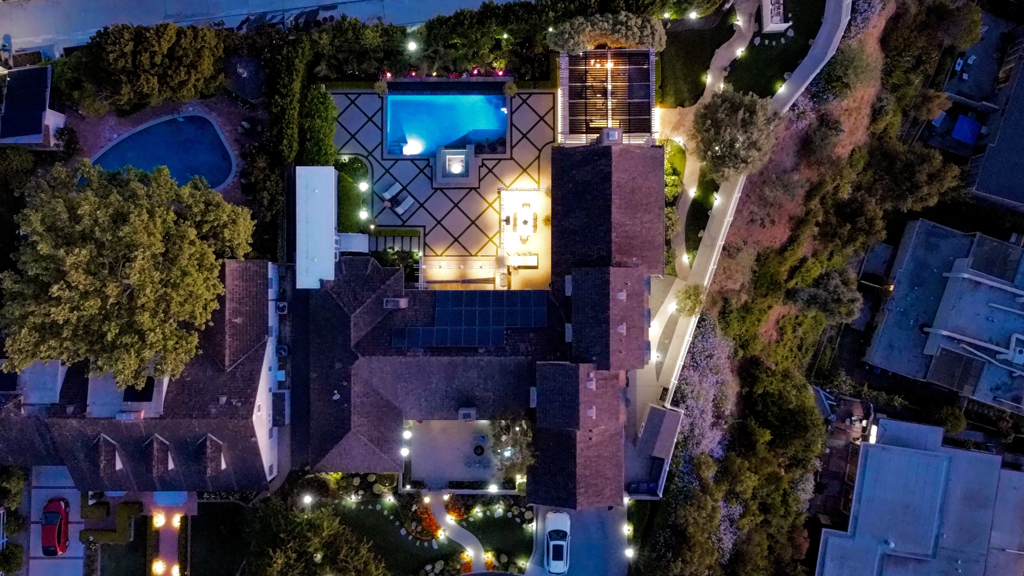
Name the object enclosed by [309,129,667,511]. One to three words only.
house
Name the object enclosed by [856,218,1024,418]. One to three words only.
house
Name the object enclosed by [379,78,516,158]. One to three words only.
swimming pool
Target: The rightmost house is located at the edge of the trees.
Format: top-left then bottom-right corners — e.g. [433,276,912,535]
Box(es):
[952,48,1024,213]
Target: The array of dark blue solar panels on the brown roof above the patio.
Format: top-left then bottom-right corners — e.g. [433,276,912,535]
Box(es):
[392,291,546,346]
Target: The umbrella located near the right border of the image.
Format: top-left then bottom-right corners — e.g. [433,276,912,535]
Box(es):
[950,115,982,145]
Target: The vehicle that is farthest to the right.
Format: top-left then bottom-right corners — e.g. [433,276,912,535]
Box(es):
[542,512,573,575]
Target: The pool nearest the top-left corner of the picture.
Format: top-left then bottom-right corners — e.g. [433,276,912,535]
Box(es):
[78,113,235,202]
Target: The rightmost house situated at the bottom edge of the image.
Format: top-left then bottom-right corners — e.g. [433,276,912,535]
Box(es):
[803,413,1024,576]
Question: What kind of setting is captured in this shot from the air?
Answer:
residential area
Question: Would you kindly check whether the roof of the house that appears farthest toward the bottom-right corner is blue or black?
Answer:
blue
